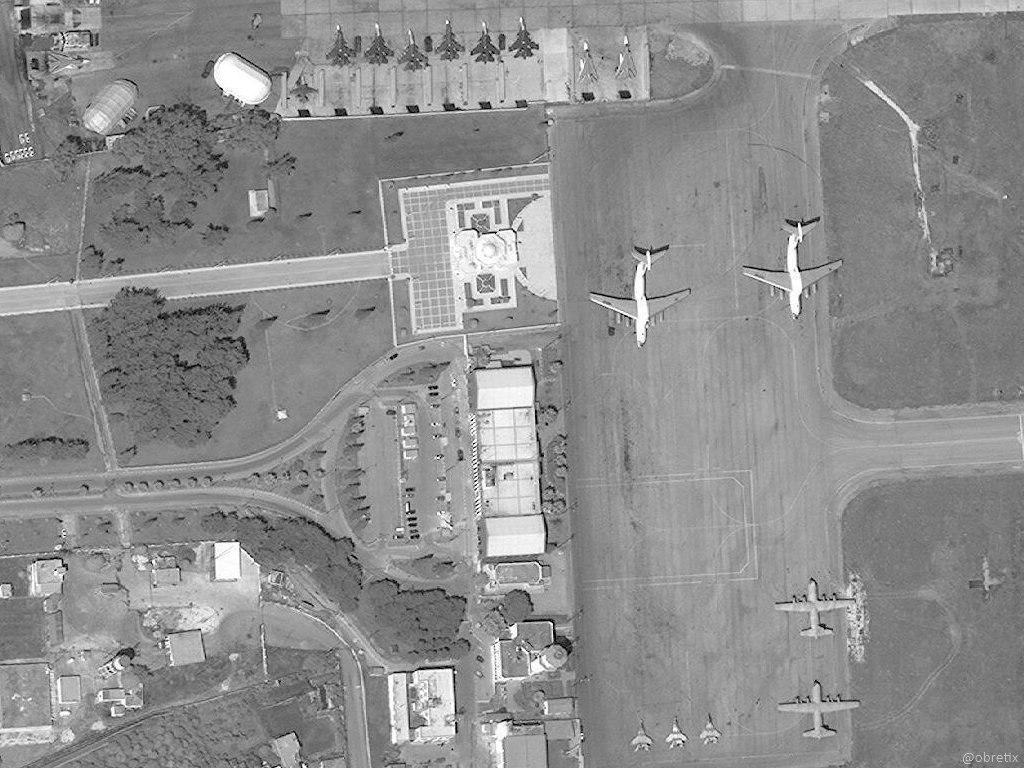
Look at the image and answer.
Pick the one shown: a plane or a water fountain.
plane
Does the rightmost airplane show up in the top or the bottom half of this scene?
bottom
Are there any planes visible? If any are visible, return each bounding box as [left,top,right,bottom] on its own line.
[984,559,1005,598]
[700,716,723,747]
[509,17,538,60]
[778,682,859,740]
[588,250,690,347]
[742,221,843,318]
[775,580,856,638]
[434,21,463,62]
[572,41,602,82]
[666,717,689,750]
[397,29,426,71]
[612,36,643,78]
[471,22,500,63]
[288,75,319,102]
[631,719,654,753]
[325,26,355,68]
[363,23,393,65]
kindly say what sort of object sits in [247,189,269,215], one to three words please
shed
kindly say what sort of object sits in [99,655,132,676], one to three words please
water tower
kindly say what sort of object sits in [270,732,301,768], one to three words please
house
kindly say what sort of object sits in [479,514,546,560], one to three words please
building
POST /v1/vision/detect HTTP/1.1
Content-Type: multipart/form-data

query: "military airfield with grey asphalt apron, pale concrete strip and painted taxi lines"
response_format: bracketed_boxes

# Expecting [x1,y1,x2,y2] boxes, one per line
[276,0,1024,768]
